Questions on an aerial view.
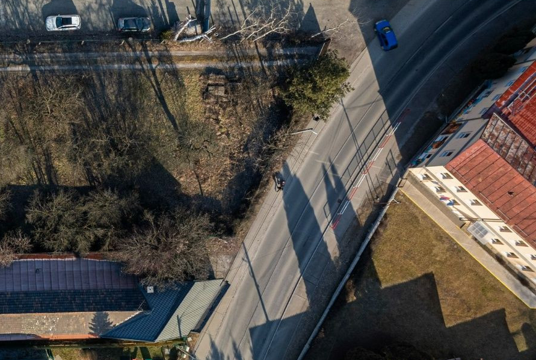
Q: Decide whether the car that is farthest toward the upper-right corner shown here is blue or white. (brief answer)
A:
blue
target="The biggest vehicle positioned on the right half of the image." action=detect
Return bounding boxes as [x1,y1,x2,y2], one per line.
[372,19,396,53]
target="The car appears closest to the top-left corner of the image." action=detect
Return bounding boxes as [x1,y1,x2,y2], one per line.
[45,14,82,33]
